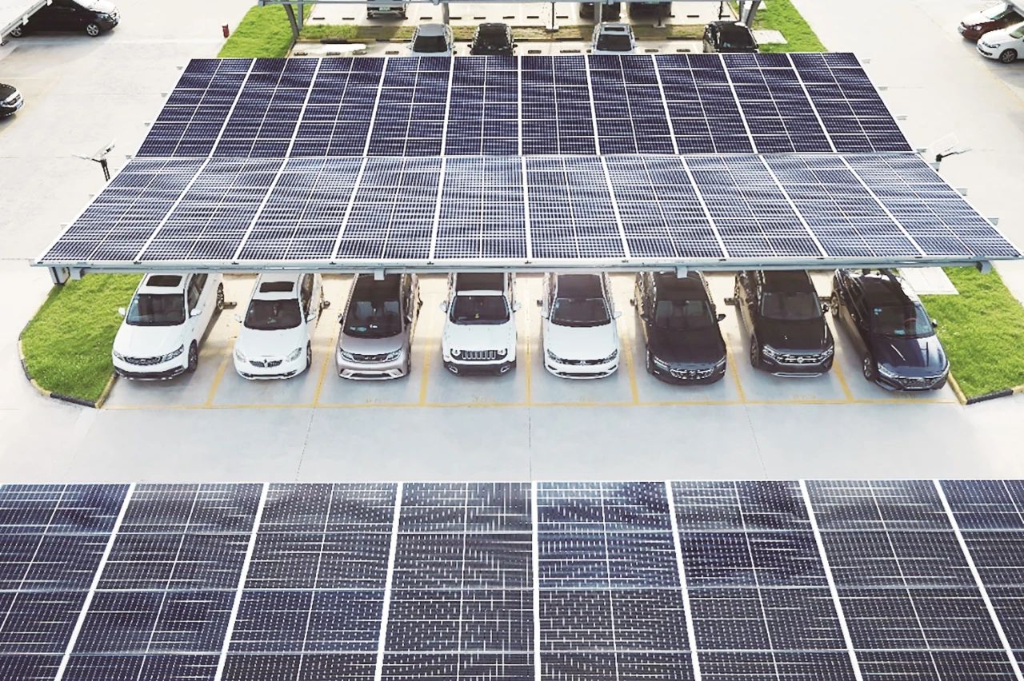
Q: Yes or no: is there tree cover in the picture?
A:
No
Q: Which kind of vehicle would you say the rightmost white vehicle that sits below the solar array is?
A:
automobile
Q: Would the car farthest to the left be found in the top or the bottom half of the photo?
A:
top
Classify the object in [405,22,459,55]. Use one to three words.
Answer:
car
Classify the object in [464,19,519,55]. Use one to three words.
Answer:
car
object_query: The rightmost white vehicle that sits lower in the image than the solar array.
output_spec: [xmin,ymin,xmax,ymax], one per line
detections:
[534,272,624,380]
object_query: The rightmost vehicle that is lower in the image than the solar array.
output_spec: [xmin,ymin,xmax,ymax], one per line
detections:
[817,270,944,391]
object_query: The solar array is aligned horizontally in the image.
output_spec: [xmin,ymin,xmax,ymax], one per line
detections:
[172,54,870,87]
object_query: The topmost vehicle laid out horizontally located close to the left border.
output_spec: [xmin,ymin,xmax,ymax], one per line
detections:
[22,0,124,34]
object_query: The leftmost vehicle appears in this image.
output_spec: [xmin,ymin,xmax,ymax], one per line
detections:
[0,75,28,113]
